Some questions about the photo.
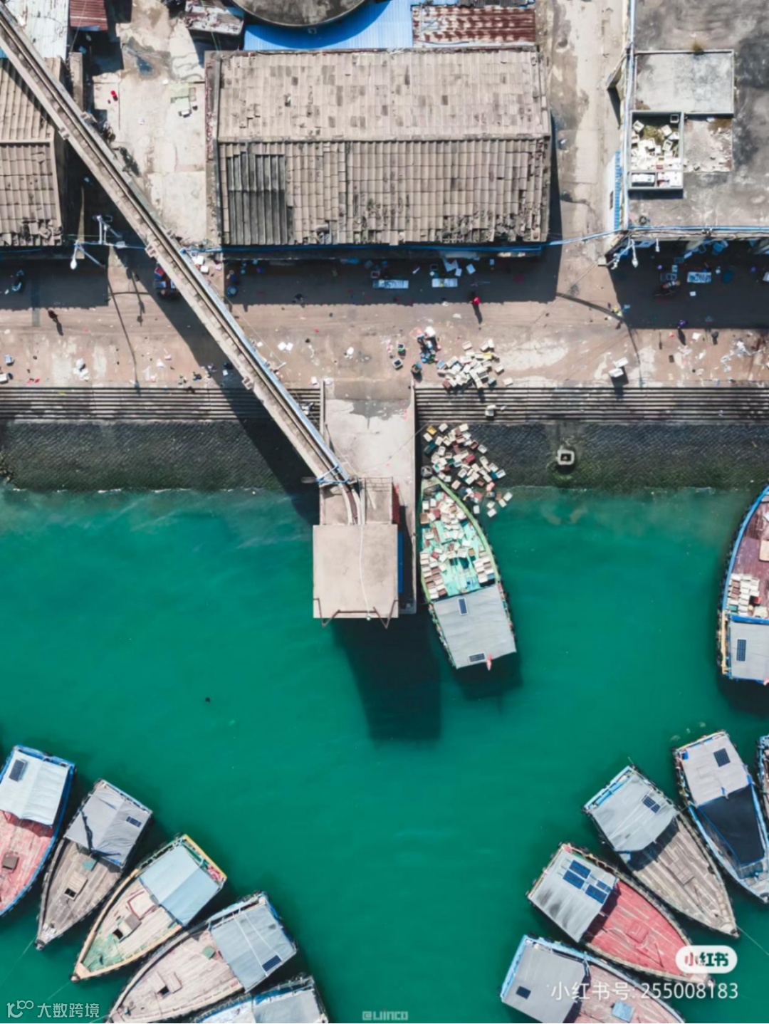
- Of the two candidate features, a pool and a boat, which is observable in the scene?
boat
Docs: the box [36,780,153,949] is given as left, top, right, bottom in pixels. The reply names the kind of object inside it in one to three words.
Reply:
boat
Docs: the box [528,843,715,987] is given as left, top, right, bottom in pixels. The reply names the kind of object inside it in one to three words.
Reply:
boat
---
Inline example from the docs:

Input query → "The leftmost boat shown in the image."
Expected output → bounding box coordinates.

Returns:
[0,747,78,925]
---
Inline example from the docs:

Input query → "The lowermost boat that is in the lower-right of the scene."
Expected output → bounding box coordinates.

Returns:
[501,935,682,1024]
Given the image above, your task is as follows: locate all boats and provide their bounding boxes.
[501,935,682,1024]
[528,843,715,987]
[582,765,738,936]
[0,747,78,925]
[36,780,153,949]
[754,732,769,824]
[105,890,297,1024]
[415,475,517,670]
[72,833,227,979]
[670,728,769,903]
[718,478,769,681]
[180,973,329,1024]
